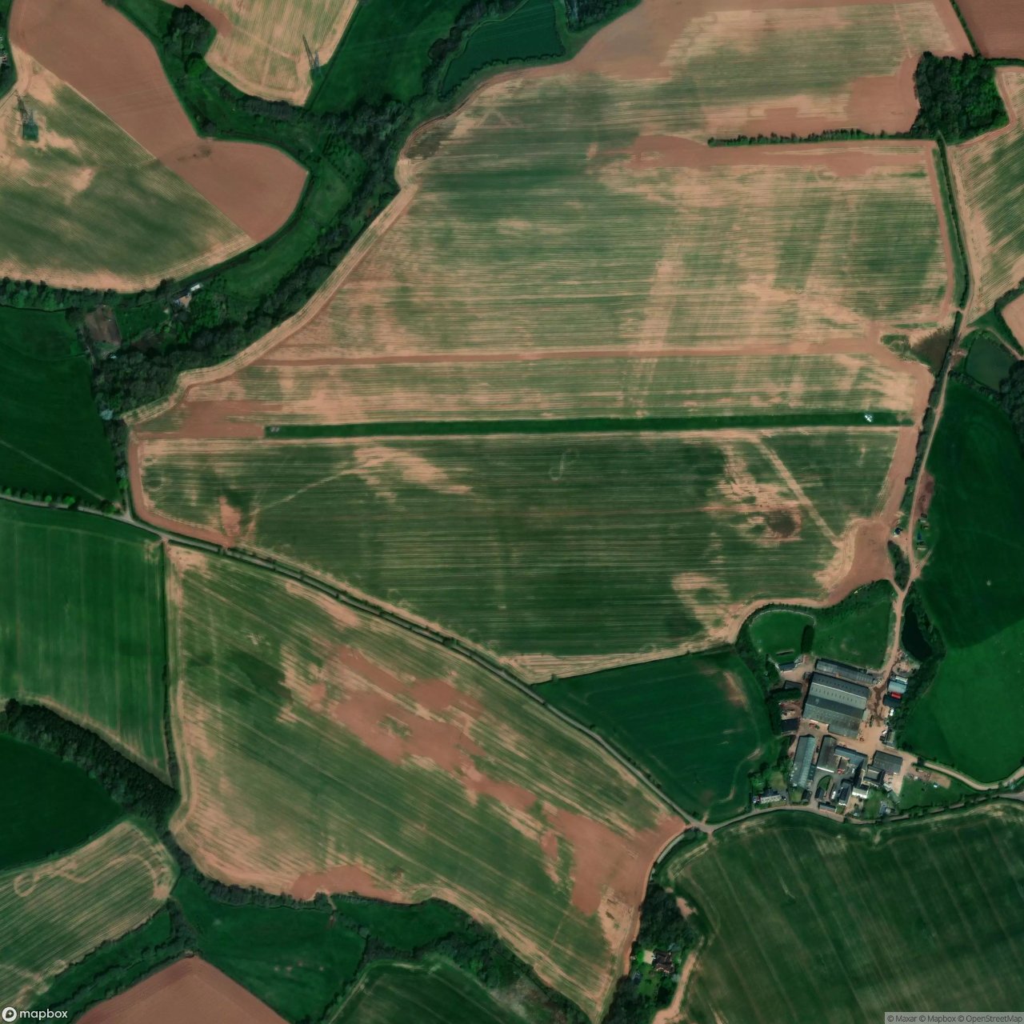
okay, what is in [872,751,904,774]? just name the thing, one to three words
building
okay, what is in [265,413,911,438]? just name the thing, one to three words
runway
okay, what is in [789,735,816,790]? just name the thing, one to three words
barn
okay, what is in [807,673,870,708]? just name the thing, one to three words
barn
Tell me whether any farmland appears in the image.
Yes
